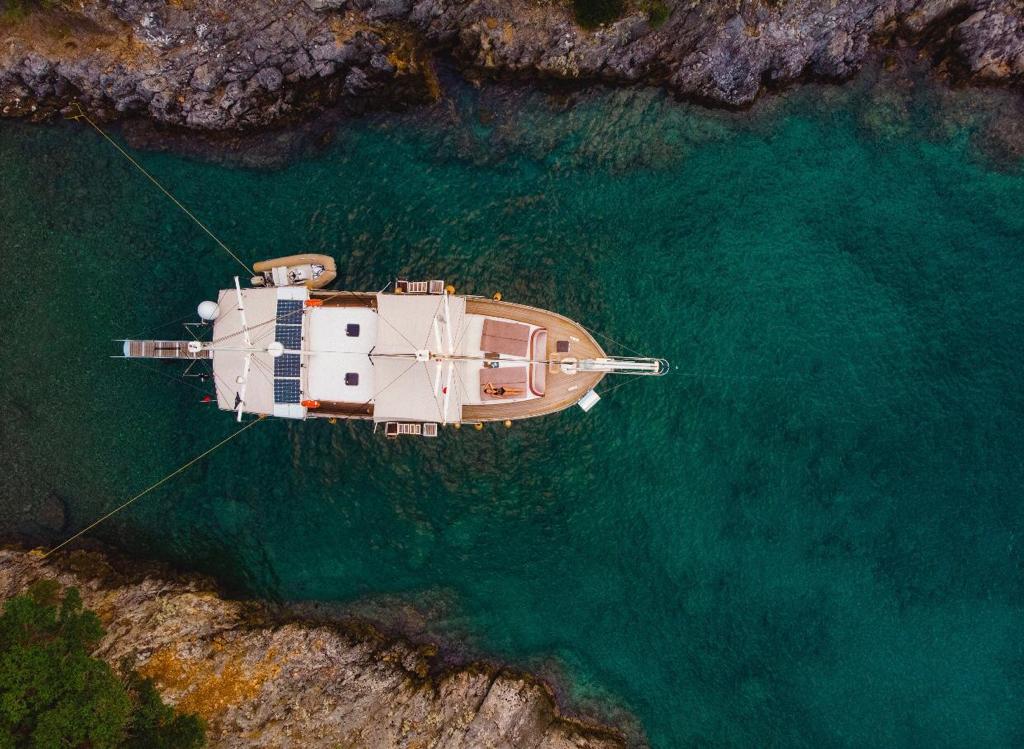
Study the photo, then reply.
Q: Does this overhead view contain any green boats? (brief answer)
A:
No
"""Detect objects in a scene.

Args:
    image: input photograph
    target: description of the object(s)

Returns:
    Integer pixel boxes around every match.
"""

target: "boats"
[248,253,336,292]
[110,278,669,437]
